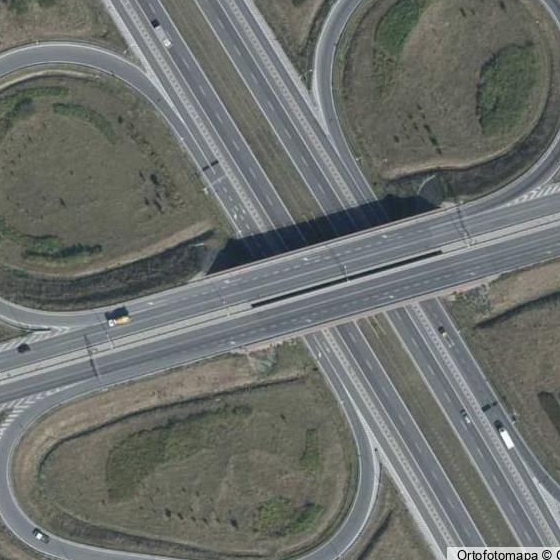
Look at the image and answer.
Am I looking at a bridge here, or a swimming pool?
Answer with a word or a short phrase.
bridge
